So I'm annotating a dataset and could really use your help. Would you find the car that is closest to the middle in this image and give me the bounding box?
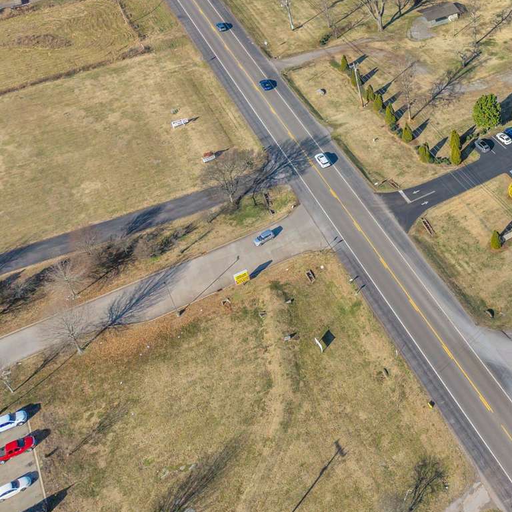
[249,224,277,245]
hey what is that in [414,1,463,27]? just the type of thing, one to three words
house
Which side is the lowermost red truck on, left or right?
left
